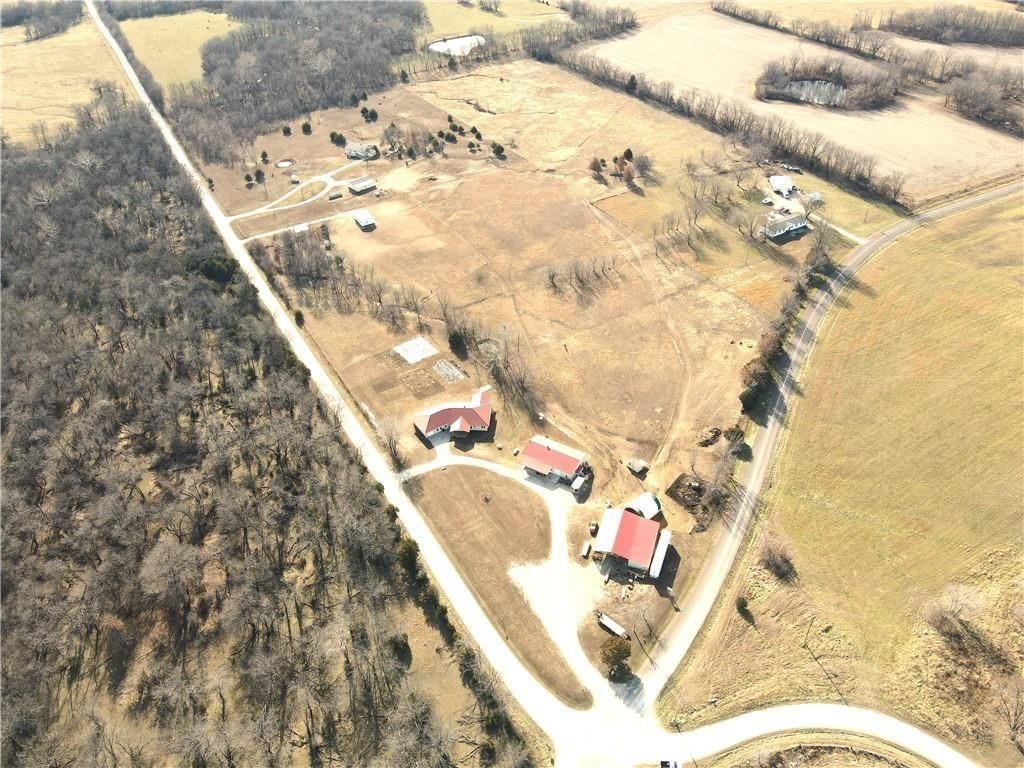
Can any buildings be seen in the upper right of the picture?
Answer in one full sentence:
Yes, in the upper right of the picture there is a building.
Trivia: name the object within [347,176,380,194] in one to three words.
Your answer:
shed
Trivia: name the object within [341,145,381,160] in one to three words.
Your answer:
house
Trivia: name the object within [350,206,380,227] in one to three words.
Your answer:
barn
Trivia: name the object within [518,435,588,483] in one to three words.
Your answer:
building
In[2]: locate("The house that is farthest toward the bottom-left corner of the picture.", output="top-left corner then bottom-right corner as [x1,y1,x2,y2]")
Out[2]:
[412,389,491,442]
